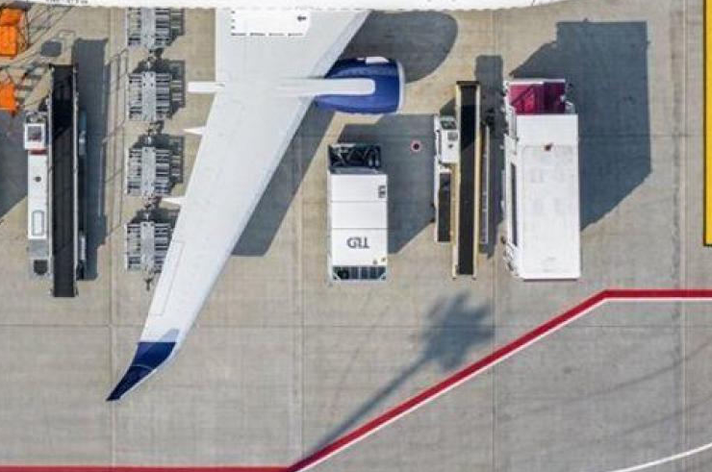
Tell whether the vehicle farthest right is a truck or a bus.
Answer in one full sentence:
Specifically, the vehicle farthest right is a truck.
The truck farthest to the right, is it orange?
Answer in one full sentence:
No, from above the truck farthest to the right looks white.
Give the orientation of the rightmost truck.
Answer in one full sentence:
In this picture, the rightmost truck lies from top to bottom.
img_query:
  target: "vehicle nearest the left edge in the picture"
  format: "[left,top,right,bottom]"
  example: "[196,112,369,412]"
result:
[25,62,88,300]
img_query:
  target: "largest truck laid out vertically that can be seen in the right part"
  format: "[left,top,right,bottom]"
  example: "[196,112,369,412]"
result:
[490,71,579,280]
